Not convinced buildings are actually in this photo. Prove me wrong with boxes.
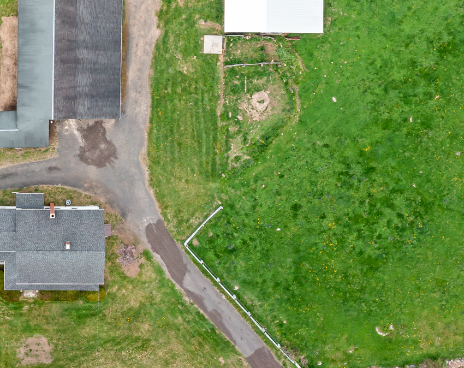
[219,0,323,33]
[0,191,112,300]
[0,0,123,147]
[201,36,224,54]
